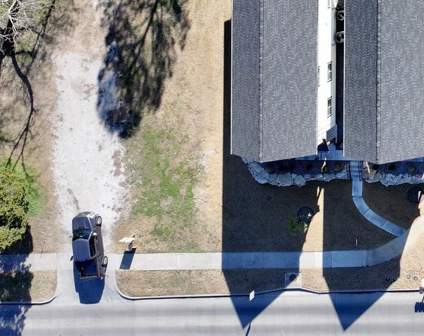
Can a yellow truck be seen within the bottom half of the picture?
No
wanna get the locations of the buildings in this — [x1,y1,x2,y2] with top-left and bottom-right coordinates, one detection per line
[230,0,337,162]
[343,0,424,165]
